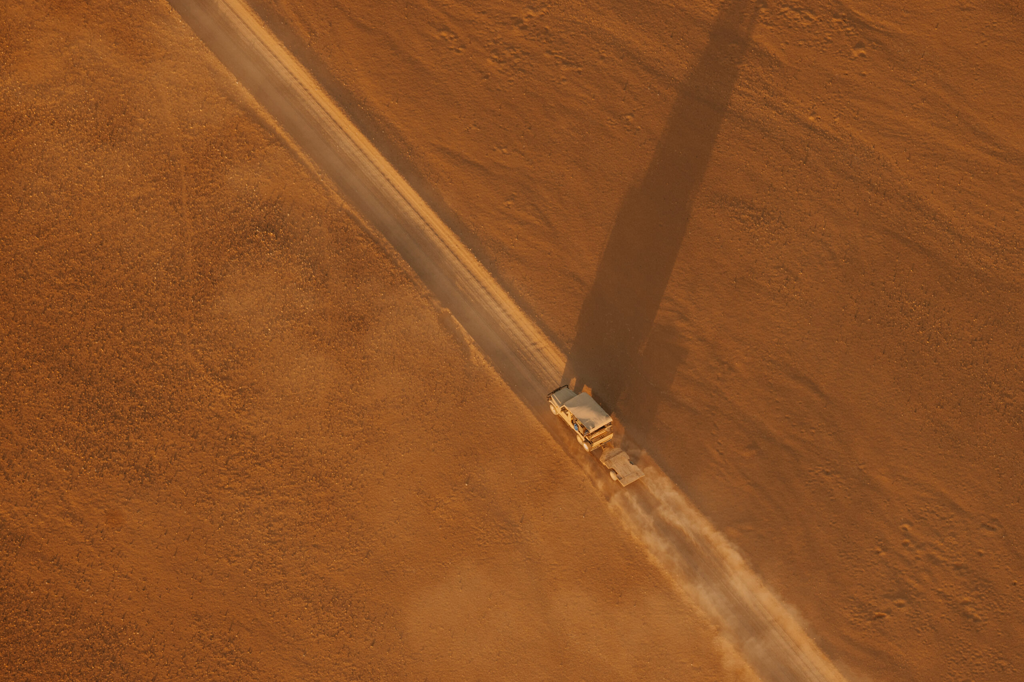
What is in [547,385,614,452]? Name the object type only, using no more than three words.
truck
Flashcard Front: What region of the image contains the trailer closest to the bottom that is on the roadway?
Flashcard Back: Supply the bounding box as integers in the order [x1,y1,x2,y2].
[600,445,646,489]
